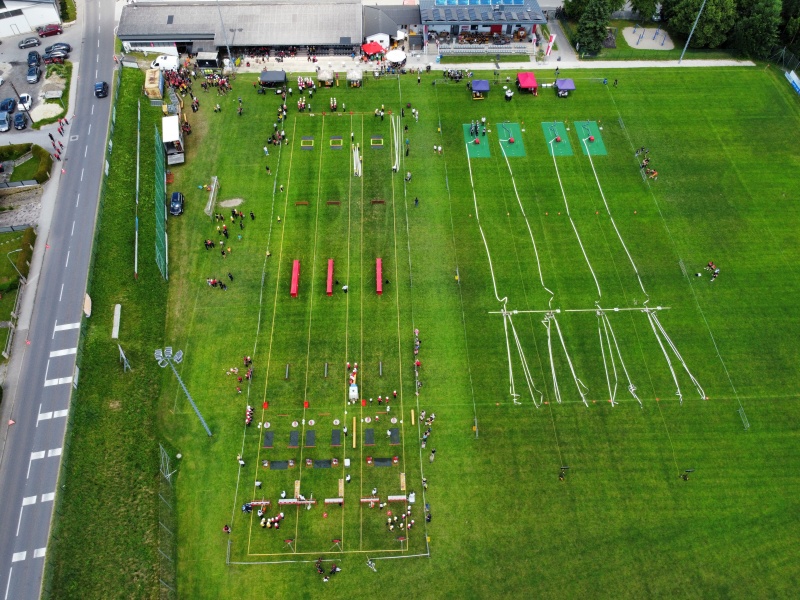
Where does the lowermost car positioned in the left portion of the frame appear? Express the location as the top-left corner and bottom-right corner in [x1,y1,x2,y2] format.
[166,191,184,216]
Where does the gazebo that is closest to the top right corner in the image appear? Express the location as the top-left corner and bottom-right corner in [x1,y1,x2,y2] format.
[552,80,578,99]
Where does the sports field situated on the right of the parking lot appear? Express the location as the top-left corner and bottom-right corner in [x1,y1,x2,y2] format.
[165,66,800,600]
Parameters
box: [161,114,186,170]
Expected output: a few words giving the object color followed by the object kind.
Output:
white trailer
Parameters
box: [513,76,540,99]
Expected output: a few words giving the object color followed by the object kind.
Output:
pink gazebo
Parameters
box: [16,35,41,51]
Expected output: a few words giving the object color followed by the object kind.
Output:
gray car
